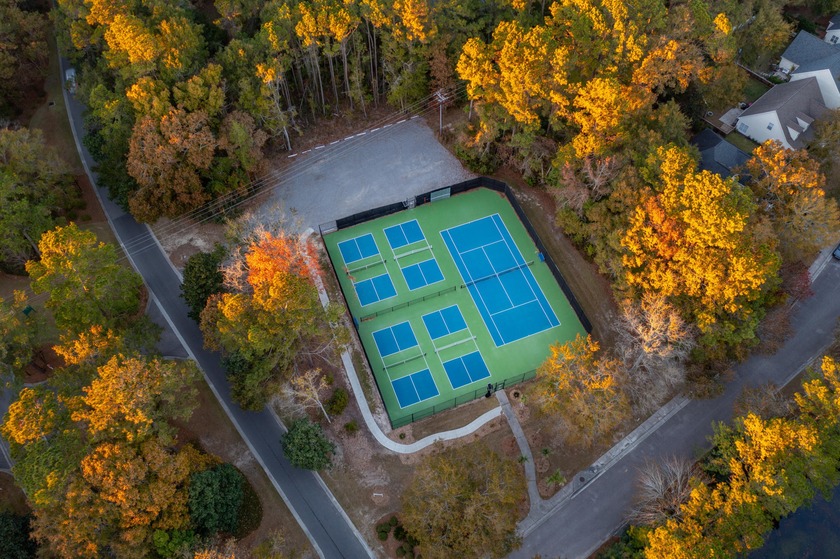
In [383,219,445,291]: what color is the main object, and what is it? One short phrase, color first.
blue sports court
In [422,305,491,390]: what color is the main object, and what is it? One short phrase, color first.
blue sports court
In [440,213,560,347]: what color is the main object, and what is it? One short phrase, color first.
blue tennis court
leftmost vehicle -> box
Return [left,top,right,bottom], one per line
[63,70,78,89]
